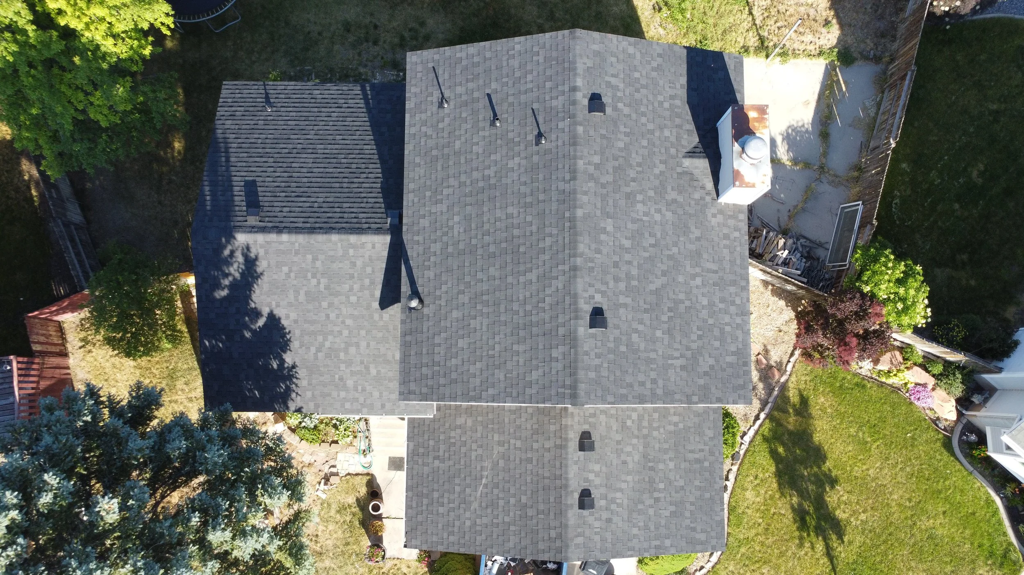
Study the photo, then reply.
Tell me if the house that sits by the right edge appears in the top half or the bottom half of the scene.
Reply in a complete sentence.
The house that sits by the right edge is in the bottom half of the image.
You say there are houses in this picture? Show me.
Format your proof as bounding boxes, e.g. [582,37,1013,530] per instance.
[959,359,1024,484]
[190,28,773,562]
